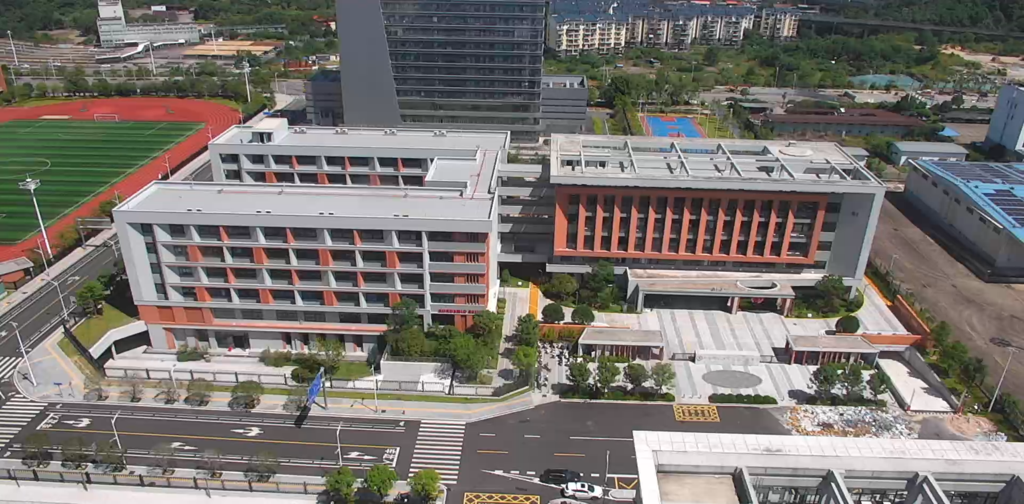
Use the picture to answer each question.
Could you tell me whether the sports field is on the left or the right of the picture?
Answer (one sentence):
The sports field sits on the left side.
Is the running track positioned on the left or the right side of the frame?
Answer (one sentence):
It is on the left.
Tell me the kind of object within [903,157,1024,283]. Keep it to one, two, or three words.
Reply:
warehouse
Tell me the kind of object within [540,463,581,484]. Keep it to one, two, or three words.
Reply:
car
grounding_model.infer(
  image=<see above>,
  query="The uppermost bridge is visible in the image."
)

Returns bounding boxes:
[807,16,1024,58]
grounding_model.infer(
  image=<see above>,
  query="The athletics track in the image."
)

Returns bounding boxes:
[0,97,236,262]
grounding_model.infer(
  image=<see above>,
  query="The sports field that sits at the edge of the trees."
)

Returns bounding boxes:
[0,118,205,242]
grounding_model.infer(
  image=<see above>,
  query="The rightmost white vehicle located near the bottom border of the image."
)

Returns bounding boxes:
[561,477,603,501]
